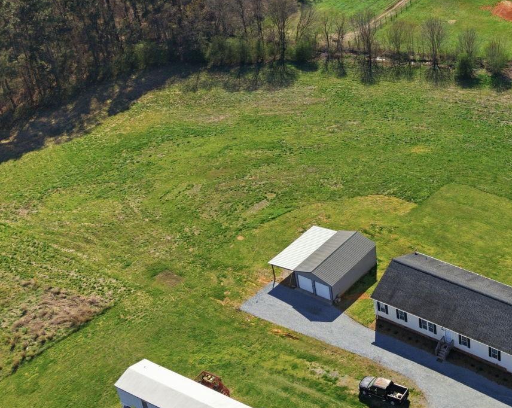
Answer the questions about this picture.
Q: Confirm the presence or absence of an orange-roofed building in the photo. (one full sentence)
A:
No, the picture doesn't show any orange-roofed building.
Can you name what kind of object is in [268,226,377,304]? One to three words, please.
building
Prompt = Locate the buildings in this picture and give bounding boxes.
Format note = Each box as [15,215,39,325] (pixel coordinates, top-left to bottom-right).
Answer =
[268,226,377,304]
[115,359,252,408]
[371,248,512,374]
